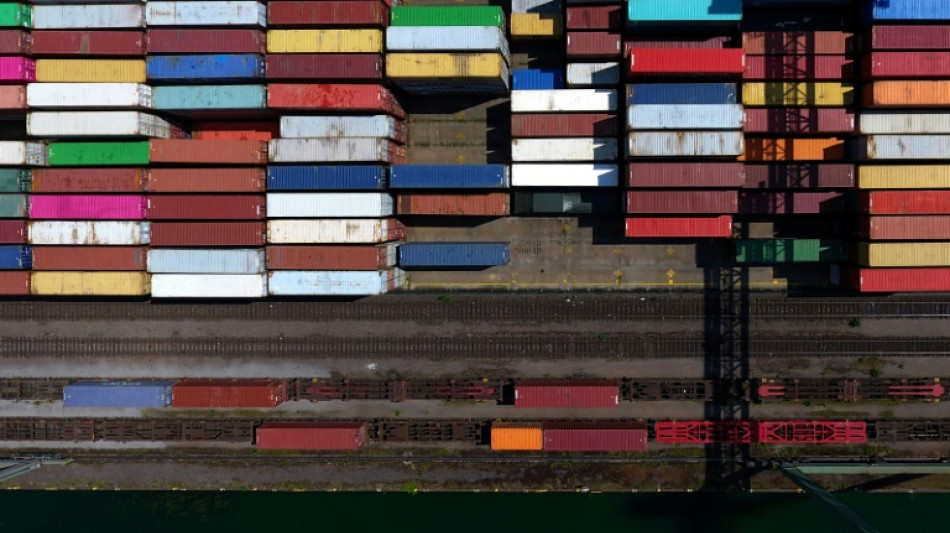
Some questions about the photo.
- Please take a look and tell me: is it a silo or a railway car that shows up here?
railway car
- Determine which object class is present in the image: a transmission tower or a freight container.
freight container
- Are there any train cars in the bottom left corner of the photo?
Yes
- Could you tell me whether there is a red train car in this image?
Yes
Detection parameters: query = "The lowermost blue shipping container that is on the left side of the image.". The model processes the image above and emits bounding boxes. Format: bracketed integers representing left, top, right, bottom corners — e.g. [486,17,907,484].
[62,382,177,407]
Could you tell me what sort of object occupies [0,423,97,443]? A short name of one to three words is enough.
rail car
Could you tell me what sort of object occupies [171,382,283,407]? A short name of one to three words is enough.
shipping container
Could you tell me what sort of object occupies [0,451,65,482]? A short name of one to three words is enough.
container crane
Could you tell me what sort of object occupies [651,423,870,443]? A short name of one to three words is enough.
rail car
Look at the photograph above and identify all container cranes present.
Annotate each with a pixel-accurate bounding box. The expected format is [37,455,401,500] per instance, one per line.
[760,451,950,533]
[0,451,65,482]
